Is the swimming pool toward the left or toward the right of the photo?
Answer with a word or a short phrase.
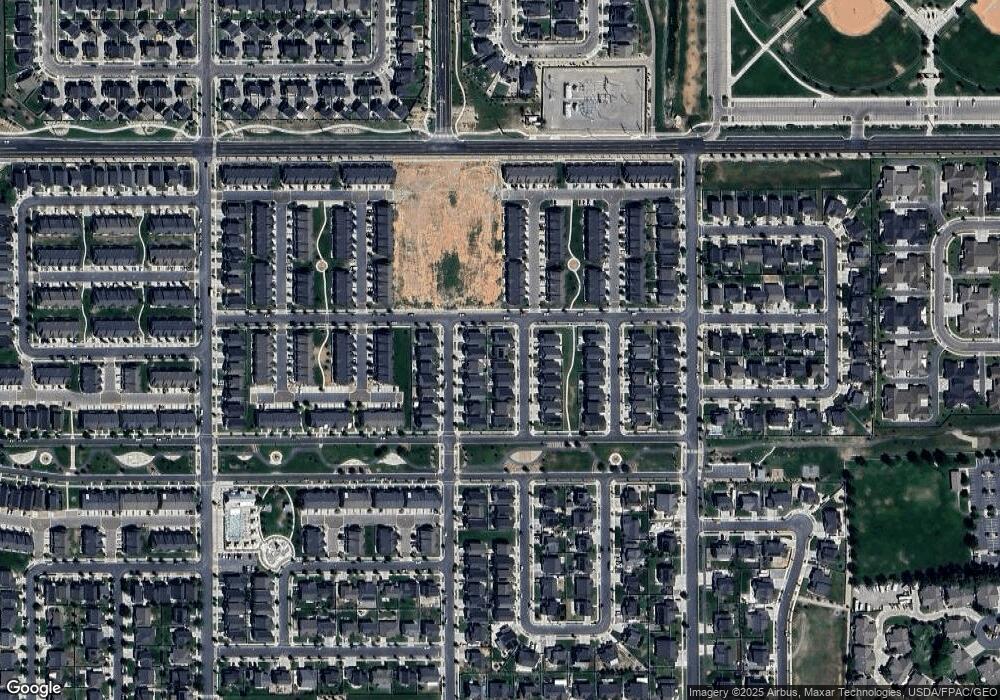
left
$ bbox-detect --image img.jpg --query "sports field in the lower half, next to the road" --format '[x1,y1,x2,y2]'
[856,462,967,573]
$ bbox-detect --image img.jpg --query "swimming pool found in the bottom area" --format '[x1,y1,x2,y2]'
[225,500,262,548]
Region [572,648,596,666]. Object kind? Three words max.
house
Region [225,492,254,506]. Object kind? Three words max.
building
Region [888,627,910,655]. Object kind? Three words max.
house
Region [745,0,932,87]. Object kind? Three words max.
baseball field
